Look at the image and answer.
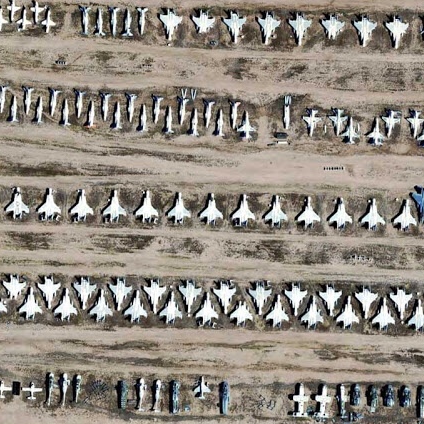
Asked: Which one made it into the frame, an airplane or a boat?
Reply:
airplane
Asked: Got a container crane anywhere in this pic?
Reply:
No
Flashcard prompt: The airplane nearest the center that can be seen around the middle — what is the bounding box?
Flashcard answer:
[201,193,223,225]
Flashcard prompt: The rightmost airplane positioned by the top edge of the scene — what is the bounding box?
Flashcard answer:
[386,16,409,48]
